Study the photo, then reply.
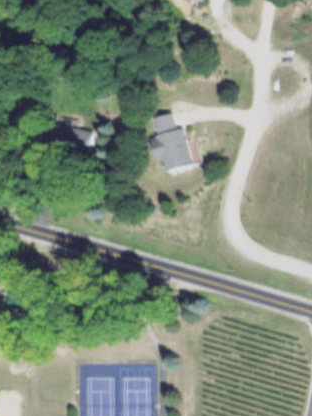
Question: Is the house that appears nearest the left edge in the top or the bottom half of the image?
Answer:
top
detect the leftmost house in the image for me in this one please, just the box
[72,128,99,149]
